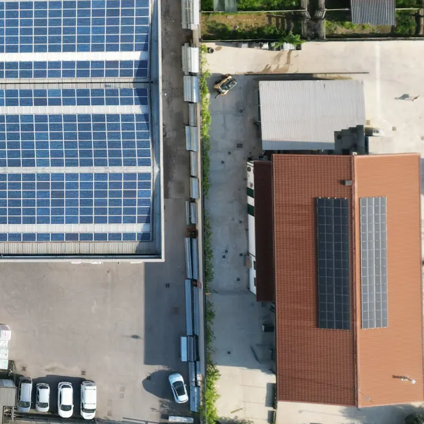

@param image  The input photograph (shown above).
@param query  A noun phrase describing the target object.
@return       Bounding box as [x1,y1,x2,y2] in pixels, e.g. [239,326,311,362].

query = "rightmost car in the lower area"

[167,369,189,405]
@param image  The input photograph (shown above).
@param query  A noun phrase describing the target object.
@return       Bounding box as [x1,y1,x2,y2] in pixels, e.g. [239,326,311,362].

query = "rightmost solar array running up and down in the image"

[360,200,388,329]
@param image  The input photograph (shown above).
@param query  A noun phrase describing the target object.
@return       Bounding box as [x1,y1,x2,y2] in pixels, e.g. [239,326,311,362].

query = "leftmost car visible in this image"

[17,376,34,412]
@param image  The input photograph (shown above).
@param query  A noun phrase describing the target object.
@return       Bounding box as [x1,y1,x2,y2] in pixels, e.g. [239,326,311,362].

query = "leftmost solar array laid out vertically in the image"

[317,200,353,329]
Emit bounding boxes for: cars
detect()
[167,369,189,405]
[80,380,97,418]
[58,380,74,417]
[17,376,34,412]
[35,381,51,412]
